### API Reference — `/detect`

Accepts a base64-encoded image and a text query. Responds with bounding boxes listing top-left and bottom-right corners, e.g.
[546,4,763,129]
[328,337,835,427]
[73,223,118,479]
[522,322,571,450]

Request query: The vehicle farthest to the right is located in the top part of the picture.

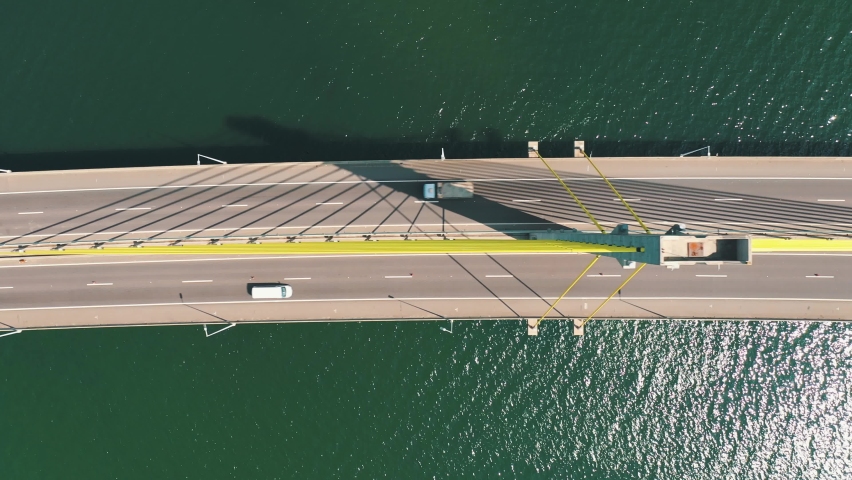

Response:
[423,182,473,200]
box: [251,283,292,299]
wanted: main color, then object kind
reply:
white vehicle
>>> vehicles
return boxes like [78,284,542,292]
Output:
[423,182,473,200]
[251,283,292,299]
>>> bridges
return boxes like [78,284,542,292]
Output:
[0,141,852,335]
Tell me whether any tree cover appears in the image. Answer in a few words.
No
